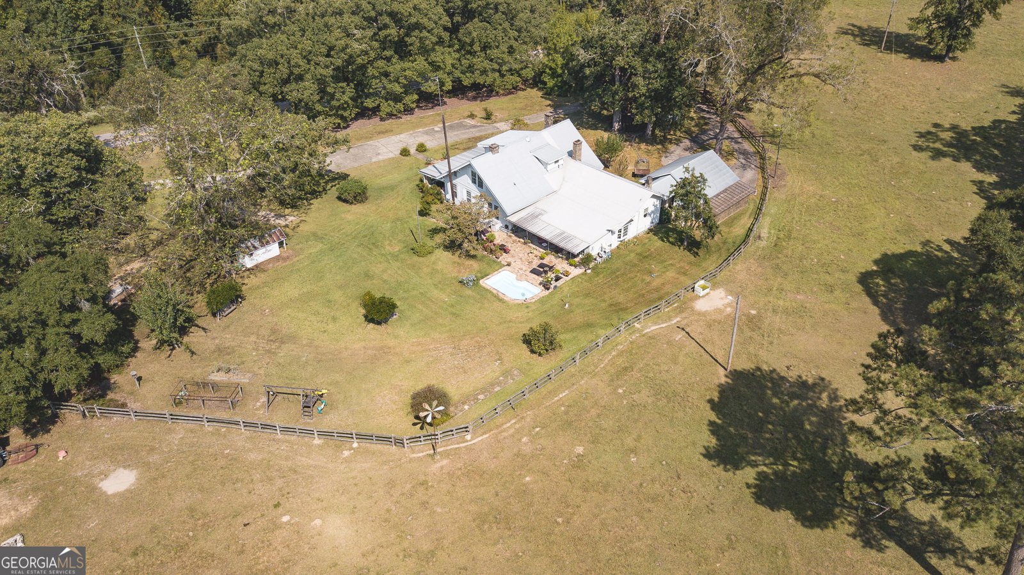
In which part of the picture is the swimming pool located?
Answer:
center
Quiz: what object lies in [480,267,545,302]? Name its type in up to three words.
swimming pool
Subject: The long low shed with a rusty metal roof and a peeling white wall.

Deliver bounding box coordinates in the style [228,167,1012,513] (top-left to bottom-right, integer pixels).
[232,228,291,267]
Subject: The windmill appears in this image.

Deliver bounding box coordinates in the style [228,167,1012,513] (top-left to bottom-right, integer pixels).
[420,400,447,457]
